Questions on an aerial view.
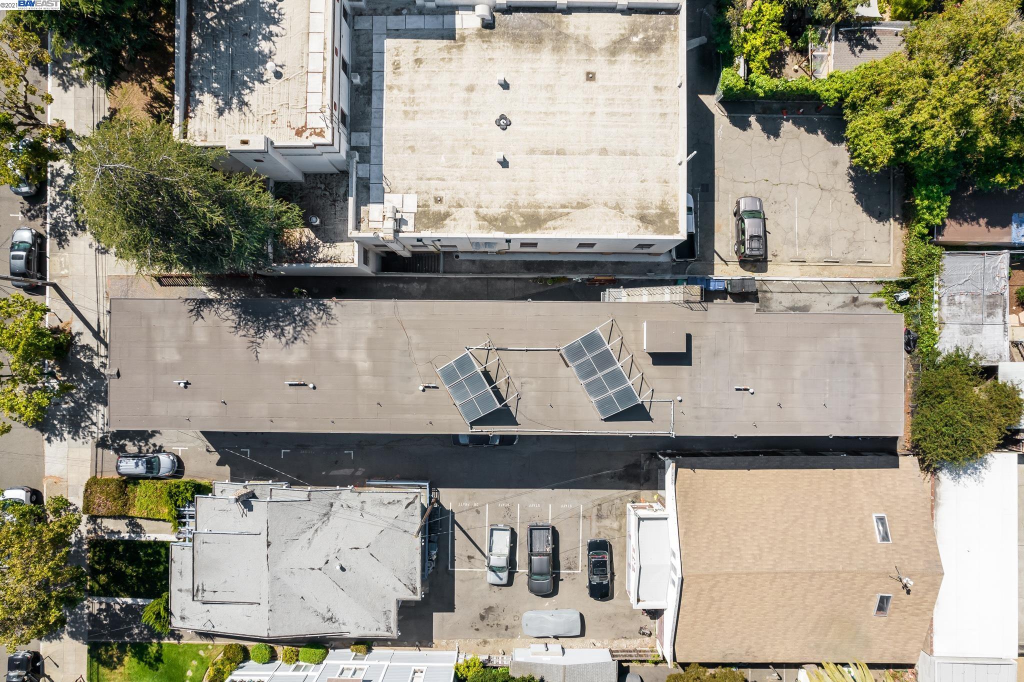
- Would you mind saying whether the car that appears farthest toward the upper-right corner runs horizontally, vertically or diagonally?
vertically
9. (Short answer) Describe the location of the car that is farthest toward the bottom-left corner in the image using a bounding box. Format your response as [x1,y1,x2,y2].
[9,646,42,682]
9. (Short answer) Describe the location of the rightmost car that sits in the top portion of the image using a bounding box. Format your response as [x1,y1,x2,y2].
[735,198,767,262]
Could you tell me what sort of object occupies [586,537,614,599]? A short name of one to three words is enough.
car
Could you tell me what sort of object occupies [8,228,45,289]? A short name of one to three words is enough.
car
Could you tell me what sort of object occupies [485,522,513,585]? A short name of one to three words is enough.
truck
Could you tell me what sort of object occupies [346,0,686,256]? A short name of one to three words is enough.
building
